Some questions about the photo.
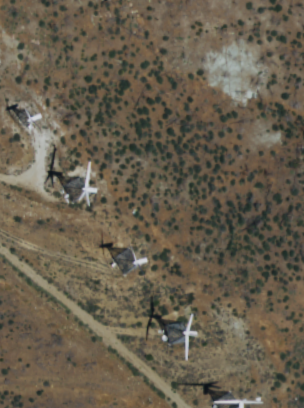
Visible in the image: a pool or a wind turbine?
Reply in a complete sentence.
It is a wind turbine that can be seen here.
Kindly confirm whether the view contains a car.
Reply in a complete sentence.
No, there isn't any car down there.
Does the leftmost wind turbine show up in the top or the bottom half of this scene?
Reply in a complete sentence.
The leftmost wind turbine sits in the top half of the picture.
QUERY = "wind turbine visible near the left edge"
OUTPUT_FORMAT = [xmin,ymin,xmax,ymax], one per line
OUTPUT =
[13,107,38,129]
